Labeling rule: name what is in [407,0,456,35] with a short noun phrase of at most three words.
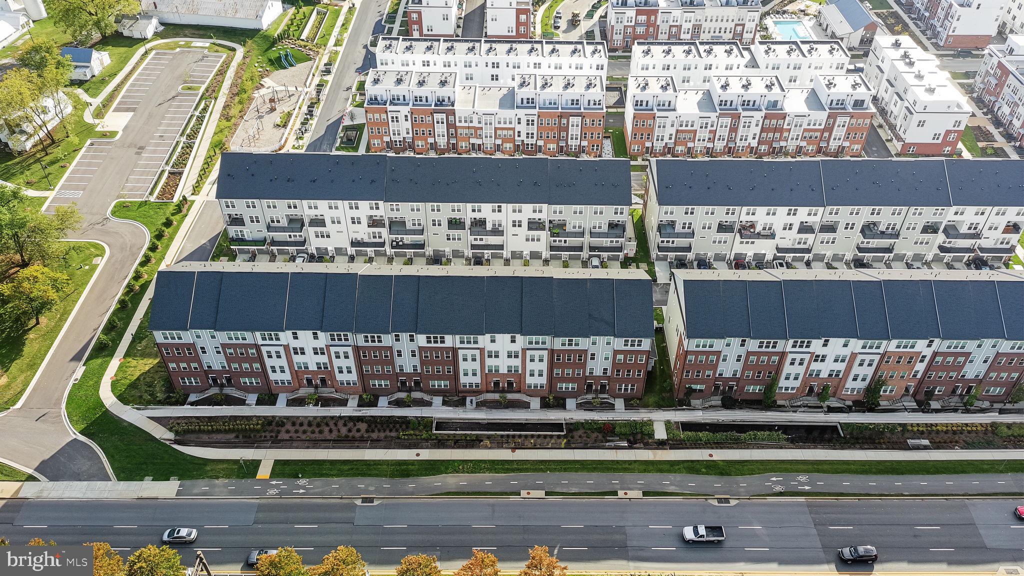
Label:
house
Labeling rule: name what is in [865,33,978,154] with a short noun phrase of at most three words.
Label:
building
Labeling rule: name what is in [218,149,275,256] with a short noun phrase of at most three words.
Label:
house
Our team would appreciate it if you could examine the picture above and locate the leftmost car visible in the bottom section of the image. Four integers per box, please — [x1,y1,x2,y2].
[160,528,198,545]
